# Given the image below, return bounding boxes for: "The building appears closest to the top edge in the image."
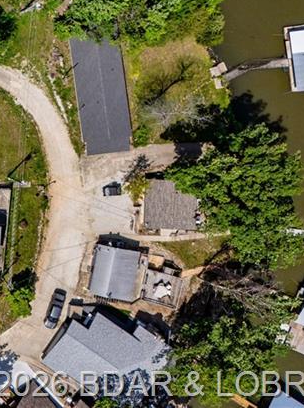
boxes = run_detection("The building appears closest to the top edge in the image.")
[68,39,130,154]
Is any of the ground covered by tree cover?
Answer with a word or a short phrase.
Yes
